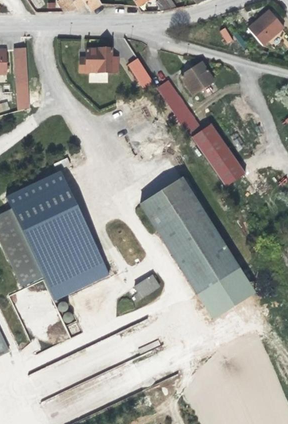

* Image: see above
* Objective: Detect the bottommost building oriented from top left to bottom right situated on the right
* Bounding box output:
[141,176,256,318]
